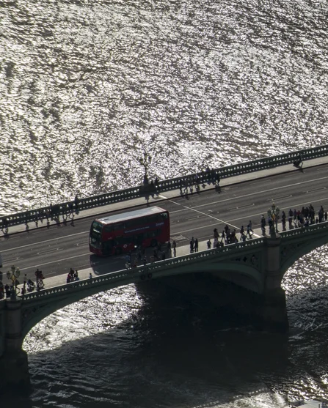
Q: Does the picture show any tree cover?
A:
No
